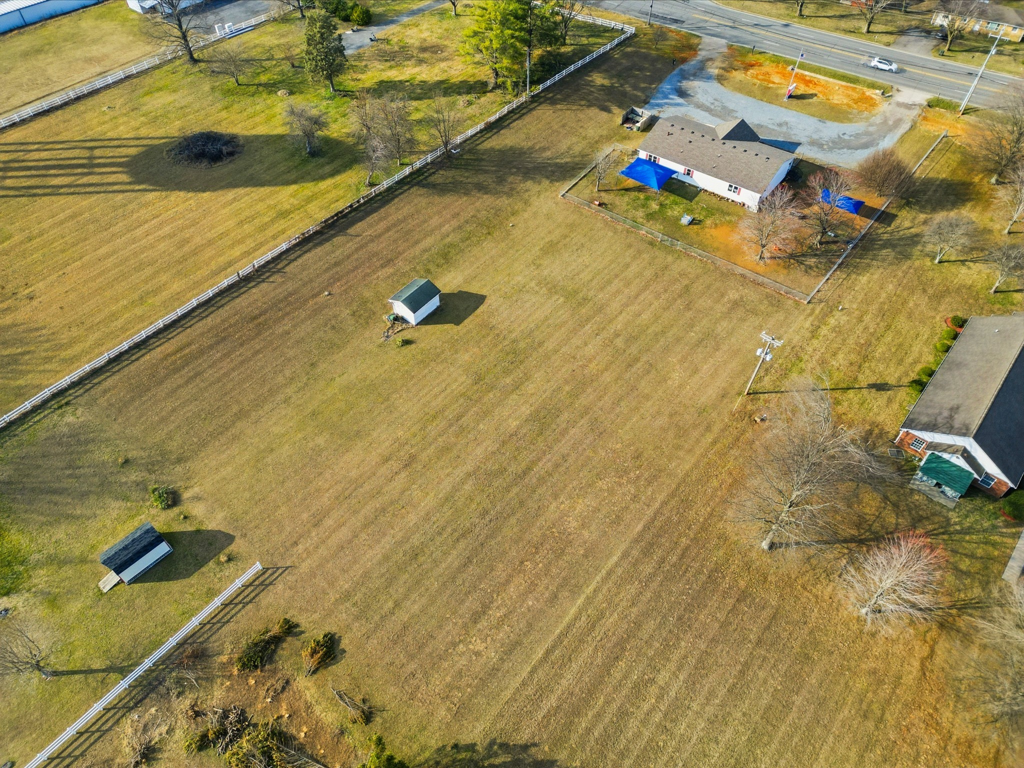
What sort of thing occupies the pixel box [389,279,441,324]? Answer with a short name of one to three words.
shed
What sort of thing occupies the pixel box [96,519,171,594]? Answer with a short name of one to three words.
shed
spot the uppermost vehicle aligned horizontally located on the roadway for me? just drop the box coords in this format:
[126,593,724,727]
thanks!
[872,56,900,71]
